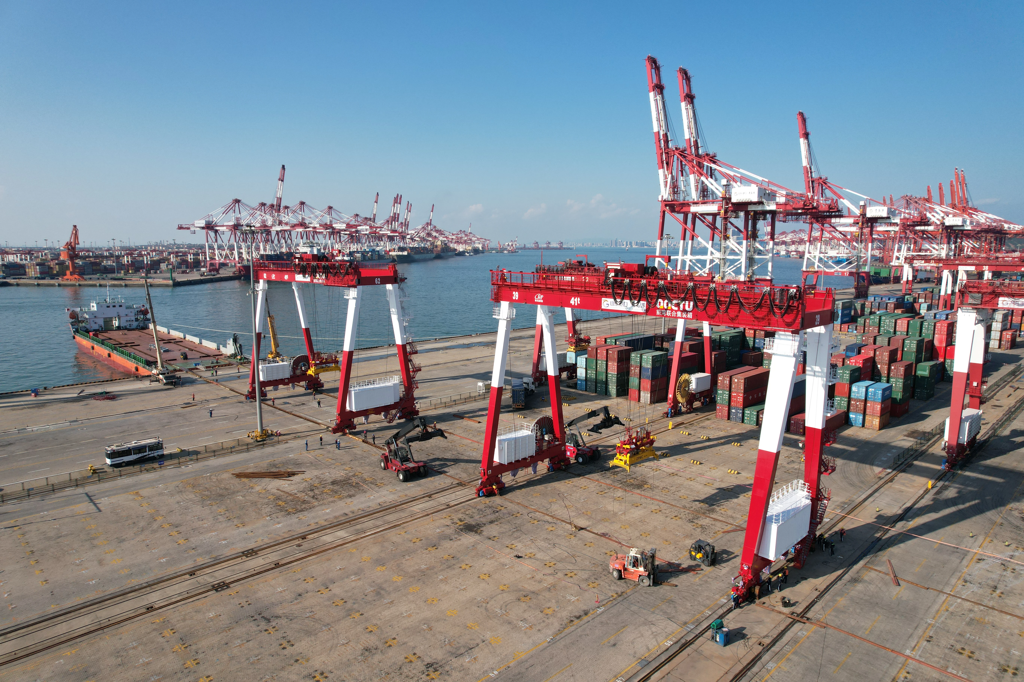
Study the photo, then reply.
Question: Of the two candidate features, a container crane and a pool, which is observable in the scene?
container crane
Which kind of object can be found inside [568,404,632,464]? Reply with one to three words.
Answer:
work vehicle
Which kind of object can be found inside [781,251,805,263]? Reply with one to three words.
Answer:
ship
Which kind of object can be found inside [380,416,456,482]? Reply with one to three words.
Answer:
work vehicle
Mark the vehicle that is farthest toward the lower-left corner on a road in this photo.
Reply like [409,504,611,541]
[103,434,168,465]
